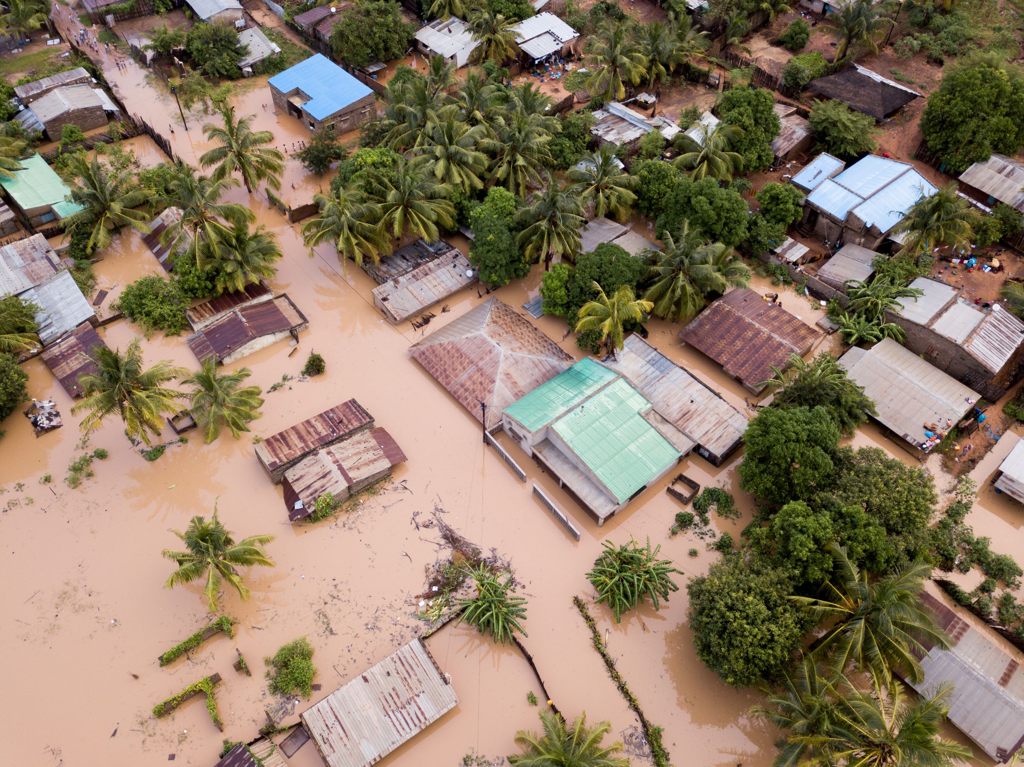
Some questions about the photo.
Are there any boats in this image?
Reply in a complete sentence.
No, no boat is visible in the scene.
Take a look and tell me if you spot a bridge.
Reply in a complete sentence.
No, no bridge can be seen from above.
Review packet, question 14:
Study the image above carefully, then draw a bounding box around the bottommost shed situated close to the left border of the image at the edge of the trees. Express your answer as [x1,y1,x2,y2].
[23,398,65,440]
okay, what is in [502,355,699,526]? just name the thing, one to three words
building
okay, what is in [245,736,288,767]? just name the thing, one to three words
shed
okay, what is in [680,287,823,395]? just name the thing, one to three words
house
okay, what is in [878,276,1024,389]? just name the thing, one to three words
house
